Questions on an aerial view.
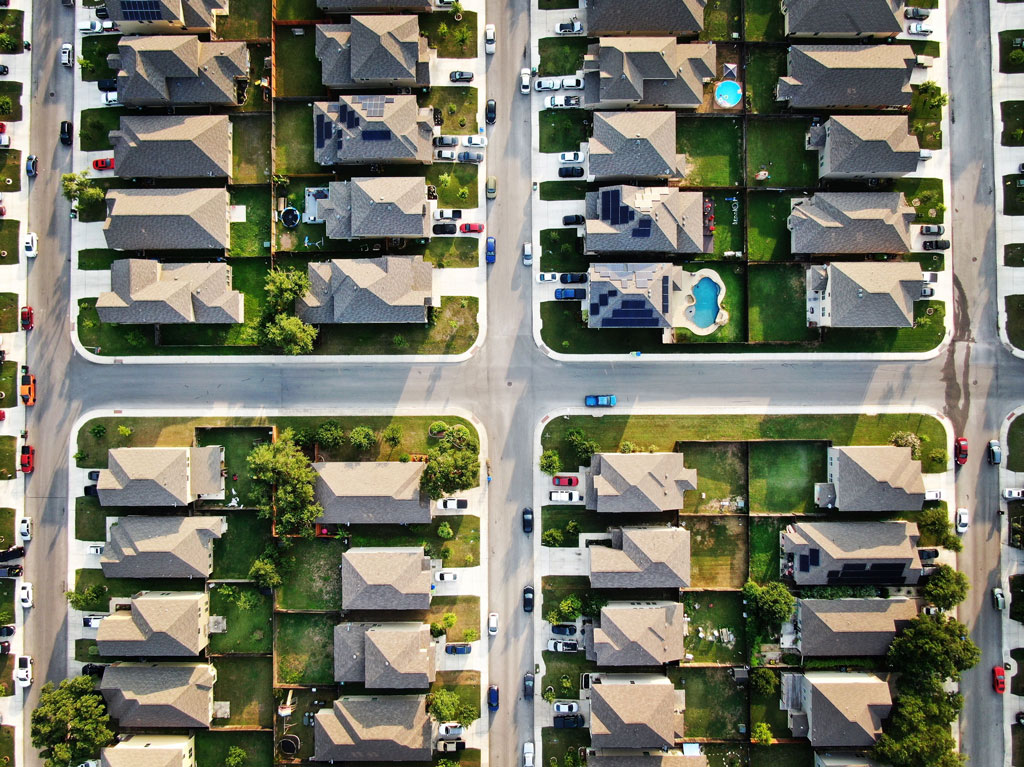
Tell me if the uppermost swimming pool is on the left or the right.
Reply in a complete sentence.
The uppermost swimming pool sits on the right side.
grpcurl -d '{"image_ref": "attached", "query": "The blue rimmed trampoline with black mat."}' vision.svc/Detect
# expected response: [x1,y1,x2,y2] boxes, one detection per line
[279,206,299,225]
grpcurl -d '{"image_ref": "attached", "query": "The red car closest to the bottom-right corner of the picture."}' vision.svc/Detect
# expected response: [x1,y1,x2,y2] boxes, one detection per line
[992,667,1005,692]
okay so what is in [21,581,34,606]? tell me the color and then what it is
white vehicle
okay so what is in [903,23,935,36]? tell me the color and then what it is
white vehicle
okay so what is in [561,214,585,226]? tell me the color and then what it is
black vehicle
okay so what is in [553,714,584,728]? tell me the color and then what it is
black vehicle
